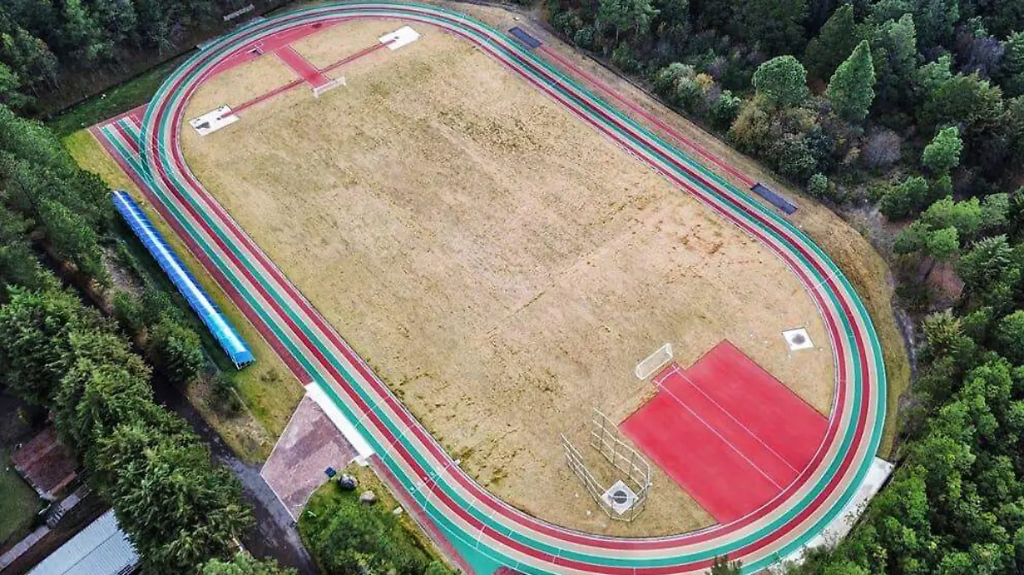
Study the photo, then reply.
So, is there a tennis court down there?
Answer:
No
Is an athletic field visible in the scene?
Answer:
Yes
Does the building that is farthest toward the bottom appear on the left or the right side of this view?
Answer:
left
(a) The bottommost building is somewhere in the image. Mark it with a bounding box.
[14,511,141,575]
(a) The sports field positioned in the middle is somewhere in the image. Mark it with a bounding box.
[182,19,832,534]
